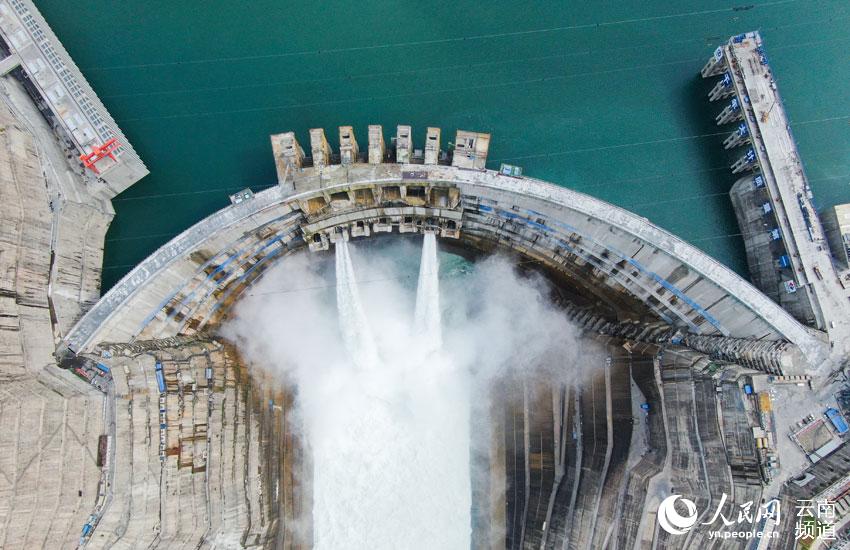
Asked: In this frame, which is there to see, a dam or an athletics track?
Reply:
dam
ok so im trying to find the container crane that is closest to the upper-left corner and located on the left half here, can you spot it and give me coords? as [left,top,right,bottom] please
[75,139,118,177]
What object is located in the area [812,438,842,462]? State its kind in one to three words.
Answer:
shed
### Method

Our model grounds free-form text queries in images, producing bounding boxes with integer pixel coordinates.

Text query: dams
[58,124,833,368]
